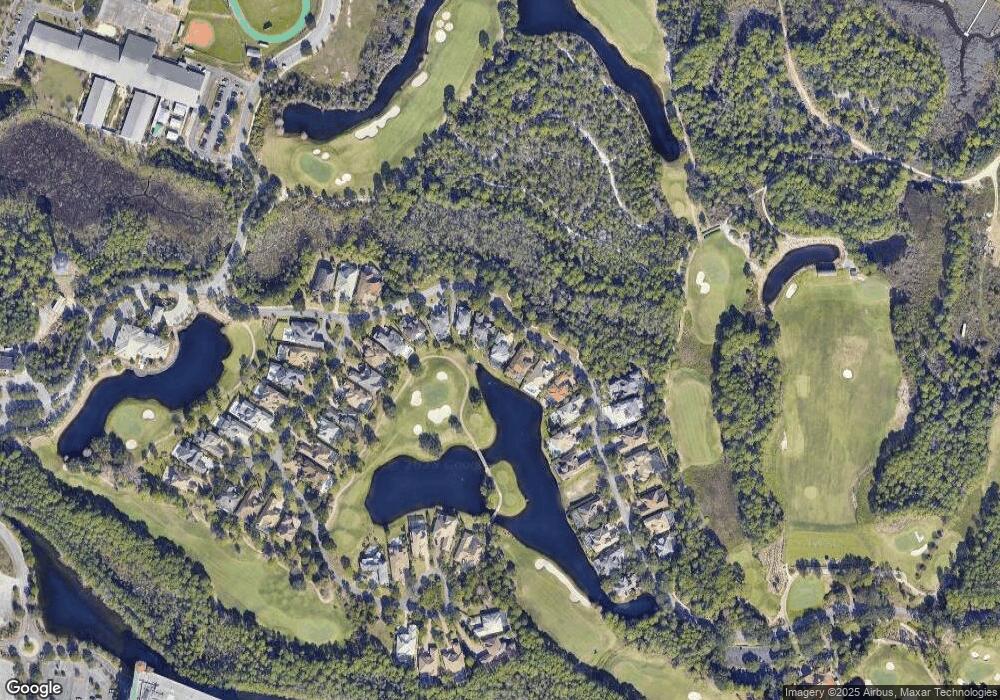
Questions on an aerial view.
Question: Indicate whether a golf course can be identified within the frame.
Yes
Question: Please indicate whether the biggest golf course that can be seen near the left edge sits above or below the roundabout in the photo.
above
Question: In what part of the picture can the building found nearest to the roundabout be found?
bottom left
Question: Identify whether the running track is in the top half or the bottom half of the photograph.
top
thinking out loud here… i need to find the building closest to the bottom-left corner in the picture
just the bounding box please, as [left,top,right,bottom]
[130,662,223,700]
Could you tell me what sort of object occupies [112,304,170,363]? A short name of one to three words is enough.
building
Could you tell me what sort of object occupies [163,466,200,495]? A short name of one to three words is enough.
house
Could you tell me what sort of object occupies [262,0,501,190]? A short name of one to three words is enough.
golf course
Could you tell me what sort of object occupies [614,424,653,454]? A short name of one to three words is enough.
house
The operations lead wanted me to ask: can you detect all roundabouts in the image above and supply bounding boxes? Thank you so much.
[9,626,47,664]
